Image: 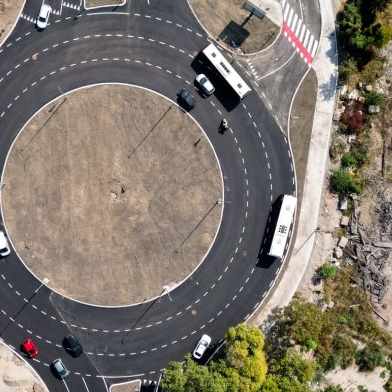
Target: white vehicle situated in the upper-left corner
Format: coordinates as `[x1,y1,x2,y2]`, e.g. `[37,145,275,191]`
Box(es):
[37,5,51,29]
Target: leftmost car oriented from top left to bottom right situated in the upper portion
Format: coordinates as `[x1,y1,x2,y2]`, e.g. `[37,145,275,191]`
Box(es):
[178,89,196,111]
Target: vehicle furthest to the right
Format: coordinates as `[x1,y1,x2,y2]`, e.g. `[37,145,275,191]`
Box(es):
[267,194,297,258]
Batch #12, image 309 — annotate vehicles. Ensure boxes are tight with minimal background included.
[193,334,211,358]
[37,5,51,29]
[53,357,70,378]
[200,42,251,100]
[23,338,38,357]
[267,194,297,258]
[195,73,214,96]
[63,334,82,357]
[0,231,10,257]
[178,89,196,111]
